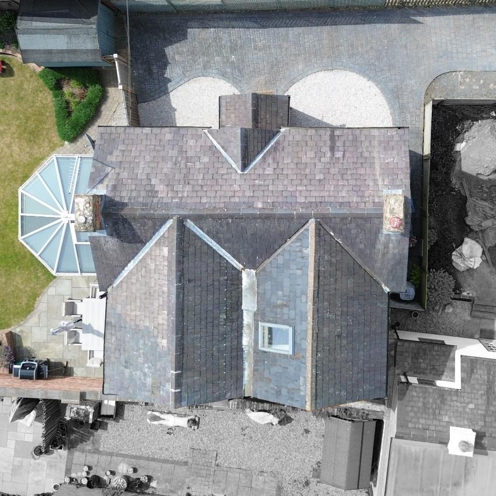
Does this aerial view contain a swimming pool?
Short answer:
No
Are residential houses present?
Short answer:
Yes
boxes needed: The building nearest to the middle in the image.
[65,90,415,410]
